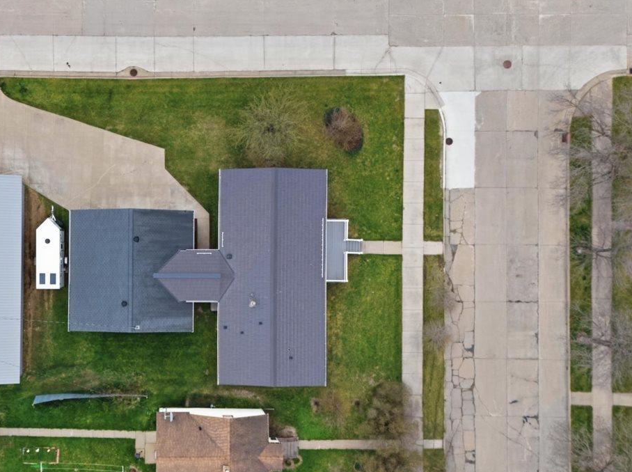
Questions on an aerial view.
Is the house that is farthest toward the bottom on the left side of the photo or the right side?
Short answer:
left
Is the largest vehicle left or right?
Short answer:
left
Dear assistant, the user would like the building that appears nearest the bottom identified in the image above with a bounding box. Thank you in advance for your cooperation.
[156,406,285,472]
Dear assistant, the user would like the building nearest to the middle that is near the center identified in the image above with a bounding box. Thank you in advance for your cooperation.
[154,166,367,389]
